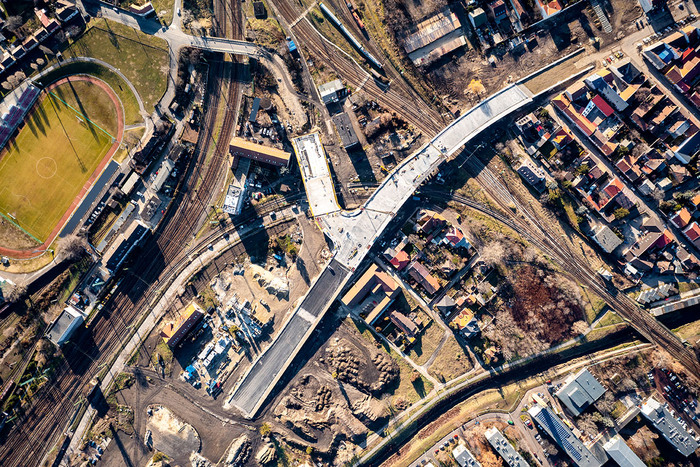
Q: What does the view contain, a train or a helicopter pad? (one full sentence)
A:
Looking from above, you can make out a train.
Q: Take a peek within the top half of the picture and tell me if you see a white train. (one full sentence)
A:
Yes, looking within the top half of the picture, one can make out a white train.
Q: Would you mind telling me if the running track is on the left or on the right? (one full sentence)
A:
You can find the running track on the left side of the picture.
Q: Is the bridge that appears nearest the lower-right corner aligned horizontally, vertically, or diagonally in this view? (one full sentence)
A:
The bridge that appears nearest the lower-right corner has been laid out diagonally relative to the frame.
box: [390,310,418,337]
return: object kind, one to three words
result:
house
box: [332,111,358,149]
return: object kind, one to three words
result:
building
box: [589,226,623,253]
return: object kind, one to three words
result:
building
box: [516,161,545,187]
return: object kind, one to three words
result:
house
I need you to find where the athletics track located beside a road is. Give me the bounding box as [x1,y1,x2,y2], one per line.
[0,75,124,258]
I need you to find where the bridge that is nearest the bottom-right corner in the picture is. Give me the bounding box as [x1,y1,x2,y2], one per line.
[632,311,696,375]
